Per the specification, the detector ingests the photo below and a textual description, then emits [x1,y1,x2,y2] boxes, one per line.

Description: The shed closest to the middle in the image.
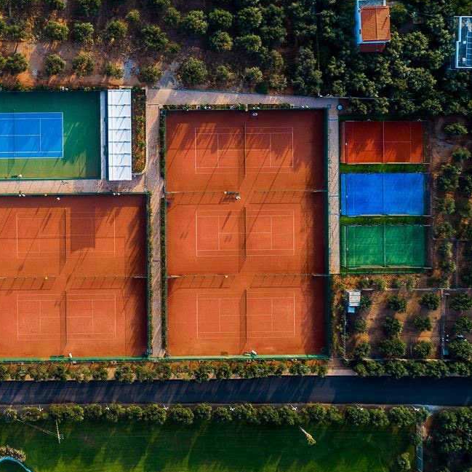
[345,290,361,313]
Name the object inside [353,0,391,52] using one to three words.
house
